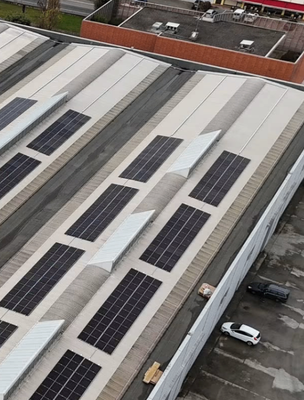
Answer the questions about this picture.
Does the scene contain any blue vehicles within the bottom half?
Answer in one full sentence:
No, there is no blue vehicle within the bottom half.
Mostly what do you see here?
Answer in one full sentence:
For the most part, this view shows buildings.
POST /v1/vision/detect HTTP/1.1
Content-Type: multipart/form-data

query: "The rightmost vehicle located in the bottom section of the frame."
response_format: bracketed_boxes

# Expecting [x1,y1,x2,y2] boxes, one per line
[247,279,292,302]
